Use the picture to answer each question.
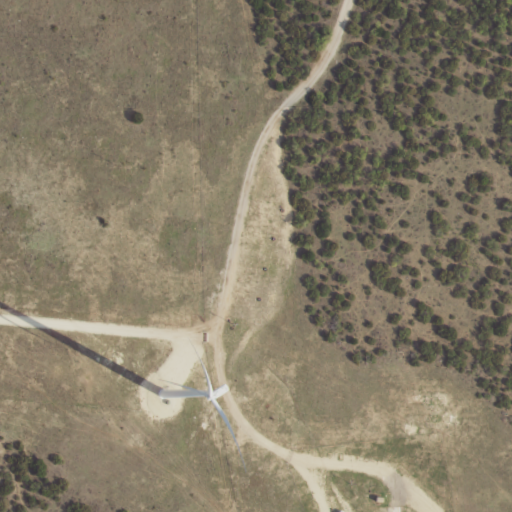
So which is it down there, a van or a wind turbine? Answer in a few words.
wind turbine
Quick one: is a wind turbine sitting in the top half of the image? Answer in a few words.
No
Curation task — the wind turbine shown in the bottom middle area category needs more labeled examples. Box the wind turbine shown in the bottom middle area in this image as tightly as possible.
[156,338,248,472]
